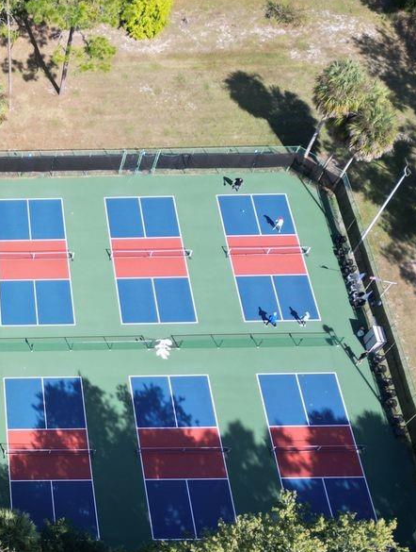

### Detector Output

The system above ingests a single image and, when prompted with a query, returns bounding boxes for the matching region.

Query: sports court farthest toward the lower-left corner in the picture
[2,375,100,541]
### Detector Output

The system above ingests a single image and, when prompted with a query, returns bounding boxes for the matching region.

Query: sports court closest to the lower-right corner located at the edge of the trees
[257,372,381,538]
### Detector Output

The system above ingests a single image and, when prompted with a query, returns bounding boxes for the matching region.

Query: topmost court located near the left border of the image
[0,197,77,326]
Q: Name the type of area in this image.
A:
sports ground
